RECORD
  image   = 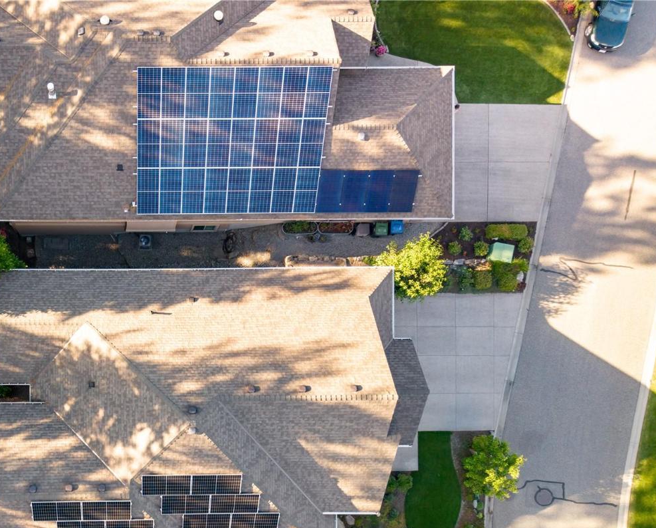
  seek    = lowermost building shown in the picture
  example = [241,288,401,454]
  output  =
[0,265,428,528]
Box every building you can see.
[0,0,456,234]
[0,265,428,528]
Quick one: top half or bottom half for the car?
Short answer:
top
